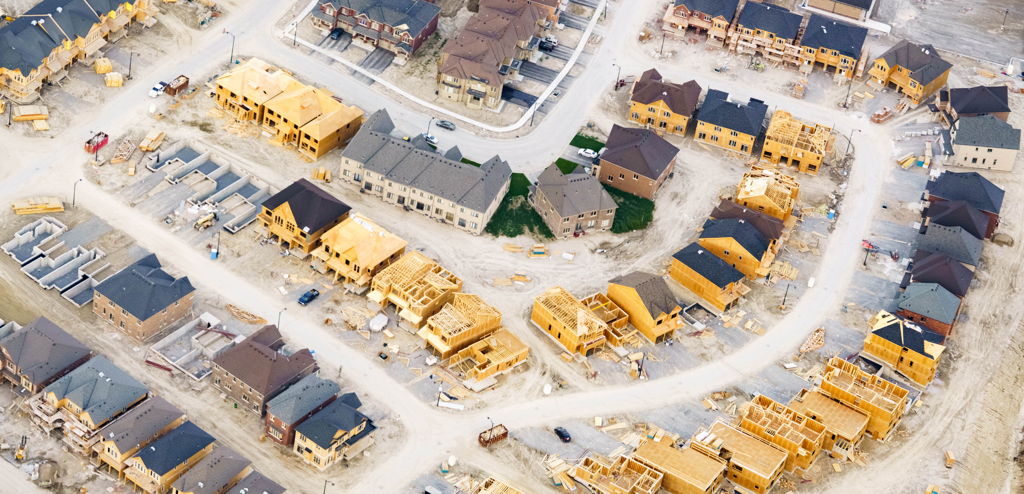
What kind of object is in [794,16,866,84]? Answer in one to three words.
house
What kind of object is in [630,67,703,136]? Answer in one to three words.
house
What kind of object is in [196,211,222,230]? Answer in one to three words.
work vehicle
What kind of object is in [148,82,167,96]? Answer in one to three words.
vehicle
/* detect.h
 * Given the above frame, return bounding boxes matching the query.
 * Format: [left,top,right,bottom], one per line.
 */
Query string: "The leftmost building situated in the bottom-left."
[0,315,90,409]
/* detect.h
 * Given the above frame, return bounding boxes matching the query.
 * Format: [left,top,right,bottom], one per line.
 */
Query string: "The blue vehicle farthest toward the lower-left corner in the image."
[297,288,320,304]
